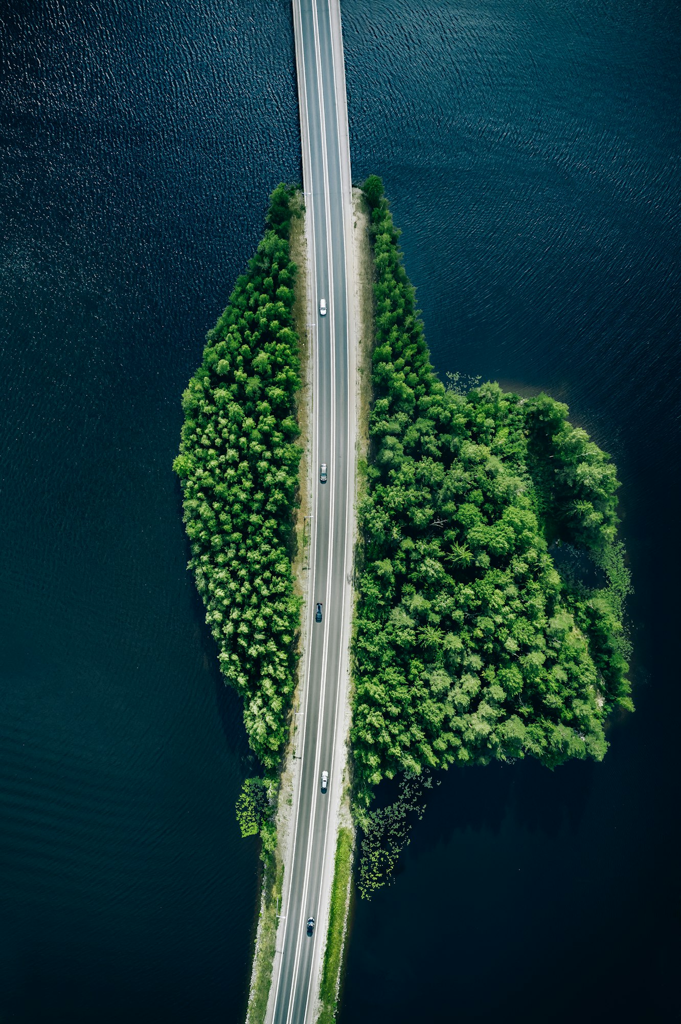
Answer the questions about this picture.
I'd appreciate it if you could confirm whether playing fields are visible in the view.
No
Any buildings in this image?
No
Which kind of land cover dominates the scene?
water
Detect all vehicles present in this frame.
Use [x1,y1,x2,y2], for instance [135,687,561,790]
[319,465,327,481]
[315,603,323,620]
[319,299,327,315]
[321,770,329,787]
[307,916,314,933]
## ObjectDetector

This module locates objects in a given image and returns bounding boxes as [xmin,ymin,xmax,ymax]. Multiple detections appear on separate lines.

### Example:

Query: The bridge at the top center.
[292,0,354,223]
